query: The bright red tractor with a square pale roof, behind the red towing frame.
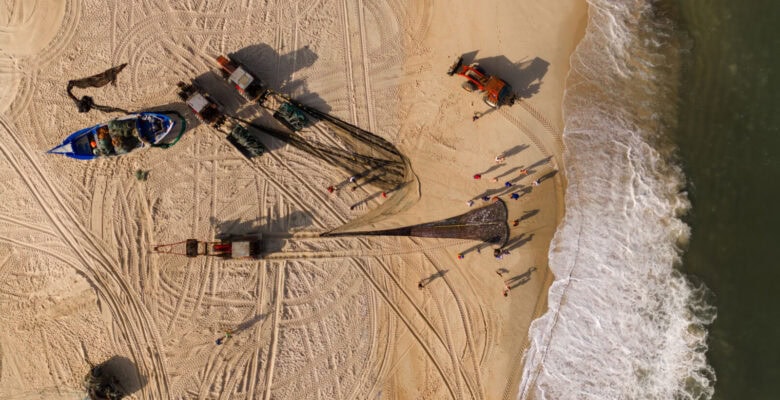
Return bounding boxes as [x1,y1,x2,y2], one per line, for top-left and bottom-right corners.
[217,232,270,260]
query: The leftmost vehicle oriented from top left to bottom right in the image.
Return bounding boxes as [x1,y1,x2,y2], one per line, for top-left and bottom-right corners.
[176,81,230,126]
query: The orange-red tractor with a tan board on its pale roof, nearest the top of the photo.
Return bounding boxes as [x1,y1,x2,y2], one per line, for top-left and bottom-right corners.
[222,60,270,104]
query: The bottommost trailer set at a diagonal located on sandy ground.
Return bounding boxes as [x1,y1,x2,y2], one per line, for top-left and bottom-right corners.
[224,123,265,160]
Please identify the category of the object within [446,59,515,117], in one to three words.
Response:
work vehicle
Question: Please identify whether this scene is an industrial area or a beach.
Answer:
beach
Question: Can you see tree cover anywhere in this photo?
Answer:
No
